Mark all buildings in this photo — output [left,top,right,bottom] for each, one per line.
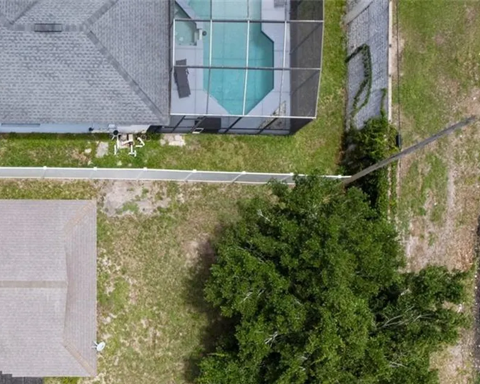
[0,196,100,384]
[0,0,172,131]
